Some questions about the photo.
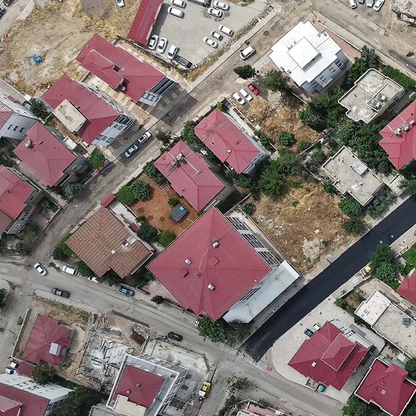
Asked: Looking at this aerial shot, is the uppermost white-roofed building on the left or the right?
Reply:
right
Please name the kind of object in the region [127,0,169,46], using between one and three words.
shed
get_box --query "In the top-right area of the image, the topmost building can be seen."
[268,21,346,90]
